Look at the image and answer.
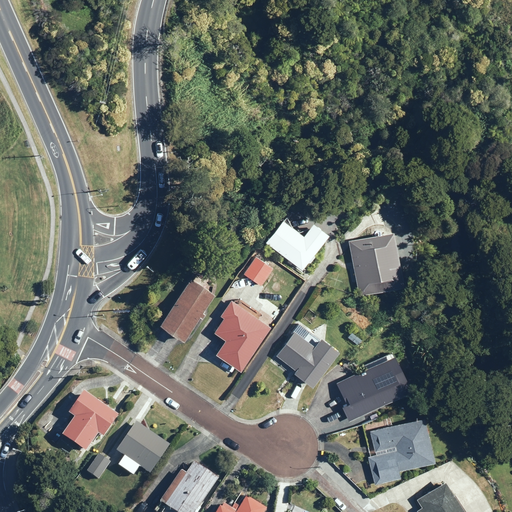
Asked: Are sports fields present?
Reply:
No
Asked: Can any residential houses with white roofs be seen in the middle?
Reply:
Yes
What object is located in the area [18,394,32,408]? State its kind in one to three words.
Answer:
vehicle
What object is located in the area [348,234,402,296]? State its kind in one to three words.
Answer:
house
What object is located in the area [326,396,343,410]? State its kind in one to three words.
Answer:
vehicle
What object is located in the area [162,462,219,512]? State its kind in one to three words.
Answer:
house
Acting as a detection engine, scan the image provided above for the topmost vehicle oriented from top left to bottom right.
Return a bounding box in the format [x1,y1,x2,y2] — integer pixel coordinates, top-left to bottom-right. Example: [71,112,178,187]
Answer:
[76,249,92,264]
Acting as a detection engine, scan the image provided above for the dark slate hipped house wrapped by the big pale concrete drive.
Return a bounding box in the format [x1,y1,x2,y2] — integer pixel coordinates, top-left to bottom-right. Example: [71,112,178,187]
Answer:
[417,484,466,512]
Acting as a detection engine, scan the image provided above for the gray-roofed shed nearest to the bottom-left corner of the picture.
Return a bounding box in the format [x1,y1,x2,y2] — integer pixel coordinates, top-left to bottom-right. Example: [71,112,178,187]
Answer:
[87,453,111,478]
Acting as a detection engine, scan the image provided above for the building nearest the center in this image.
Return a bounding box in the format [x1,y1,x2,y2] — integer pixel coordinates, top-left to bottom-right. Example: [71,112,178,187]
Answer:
[245,256,272,286]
